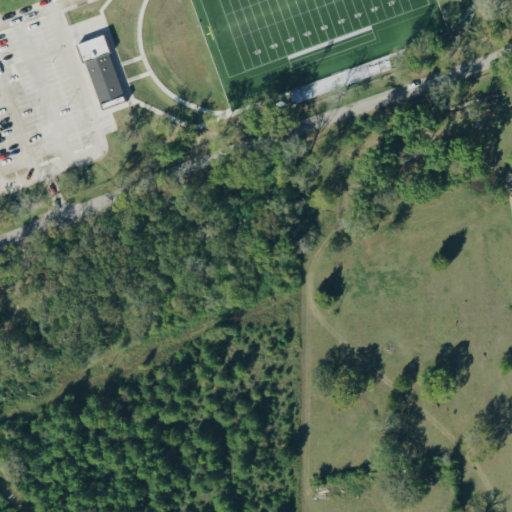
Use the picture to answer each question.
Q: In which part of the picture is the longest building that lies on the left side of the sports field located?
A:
top left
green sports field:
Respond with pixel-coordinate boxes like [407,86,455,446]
[192,0,450,108]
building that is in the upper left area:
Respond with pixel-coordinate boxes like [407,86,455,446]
[76,34,126,108]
